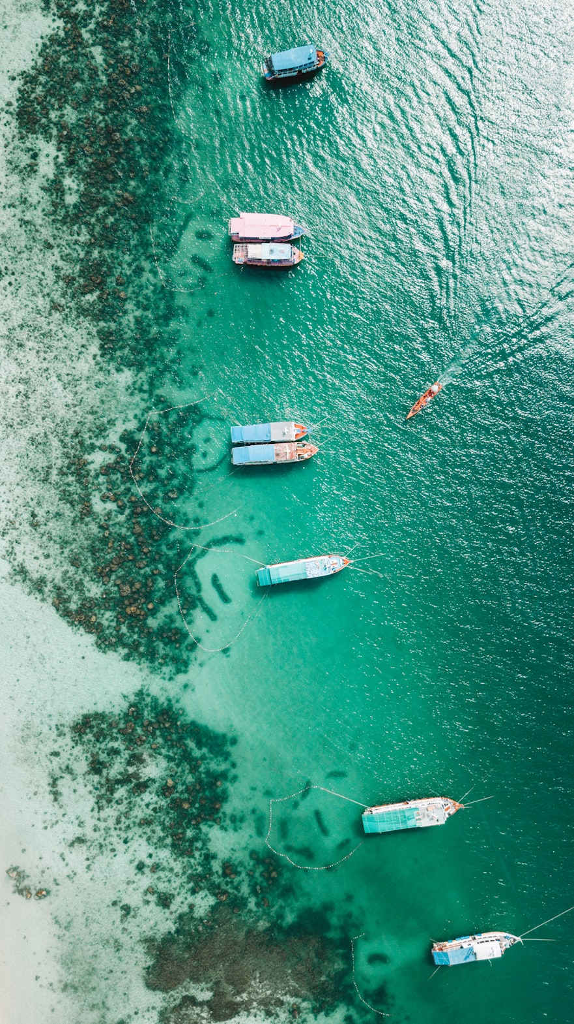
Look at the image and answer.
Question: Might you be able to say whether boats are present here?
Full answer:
Yes, looking at the shot, I can spot a boat.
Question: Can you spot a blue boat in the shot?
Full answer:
Yes, you can see a blue boat in this photo.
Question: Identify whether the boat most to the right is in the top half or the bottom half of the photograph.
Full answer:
The bottom half of the photo is where the boat most to the right is.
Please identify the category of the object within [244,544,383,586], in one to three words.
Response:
boat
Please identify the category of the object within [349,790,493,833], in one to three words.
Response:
boat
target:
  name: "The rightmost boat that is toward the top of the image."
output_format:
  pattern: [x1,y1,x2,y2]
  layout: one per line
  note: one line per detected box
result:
[407,375,446,419]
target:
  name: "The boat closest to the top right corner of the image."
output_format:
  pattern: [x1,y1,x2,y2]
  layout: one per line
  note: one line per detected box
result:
[262,44,331,82]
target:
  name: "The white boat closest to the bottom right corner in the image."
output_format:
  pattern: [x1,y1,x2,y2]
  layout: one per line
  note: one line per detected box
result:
[430,906,574,970]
